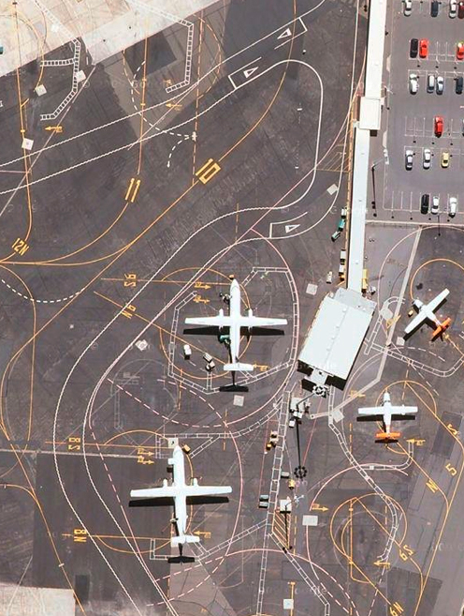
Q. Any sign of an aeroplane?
Yes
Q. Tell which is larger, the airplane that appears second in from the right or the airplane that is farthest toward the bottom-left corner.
the airplane that is farthest toward the bottom-left corner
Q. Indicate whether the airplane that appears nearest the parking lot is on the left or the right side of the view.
right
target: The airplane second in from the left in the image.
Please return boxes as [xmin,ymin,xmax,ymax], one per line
[185,279,286,371]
